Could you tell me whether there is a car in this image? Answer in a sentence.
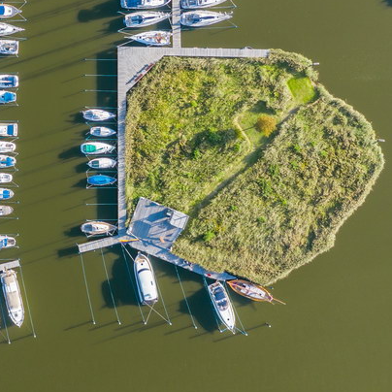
No, there appears to be no car in this shot.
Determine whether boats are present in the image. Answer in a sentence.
Yes, a boat appears in the view.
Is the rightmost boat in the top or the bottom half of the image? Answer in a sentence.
Seen from above, the rightmost boat lies in the bottom half of the view.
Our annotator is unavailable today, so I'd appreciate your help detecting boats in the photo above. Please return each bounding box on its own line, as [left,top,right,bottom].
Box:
[0,73,24,89]
[0,155,20,169]
[0,40,23,56]
[137,250,160,308]
[128,31,172,47]
[226,280,286,308]
[0,141,18,153]
[0,235,19,249]
[0,3,23,18]
[181,11,235,28]
[81,222,120,235]
[82,108,116,122]
[0,189,15,200]
[206,277,237,336]
[0,122,23,137]
[0,172,17,184]
[76,141,116,155]
[120,11,174,31]
[84,157,120,169]
[0,205,14,217]
[0,22,26,36]
[90,126,116,137]
[0,268,23,328]
[0,90,17,105]
[116,0,172,10]
[181,0,232,9]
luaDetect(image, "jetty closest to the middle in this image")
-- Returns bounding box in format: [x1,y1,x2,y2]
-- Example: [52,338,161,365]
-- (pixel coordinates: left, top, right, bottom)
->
[77,234,122,253]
